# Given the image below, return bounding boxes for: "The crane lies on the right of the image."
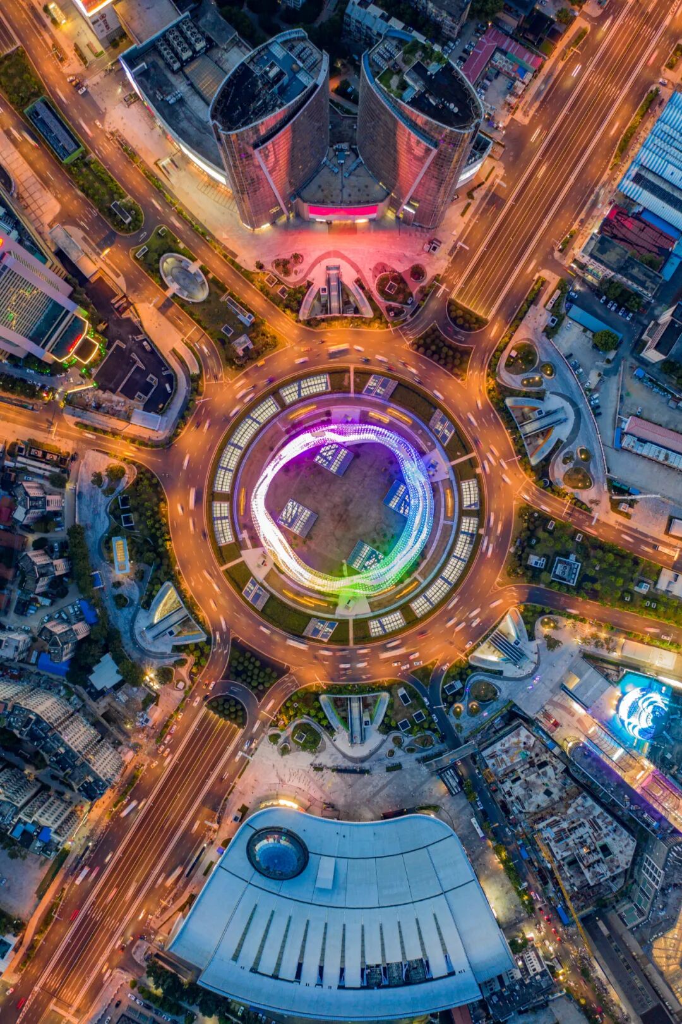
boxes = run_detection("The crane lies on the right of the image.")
[527,826,594,957]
